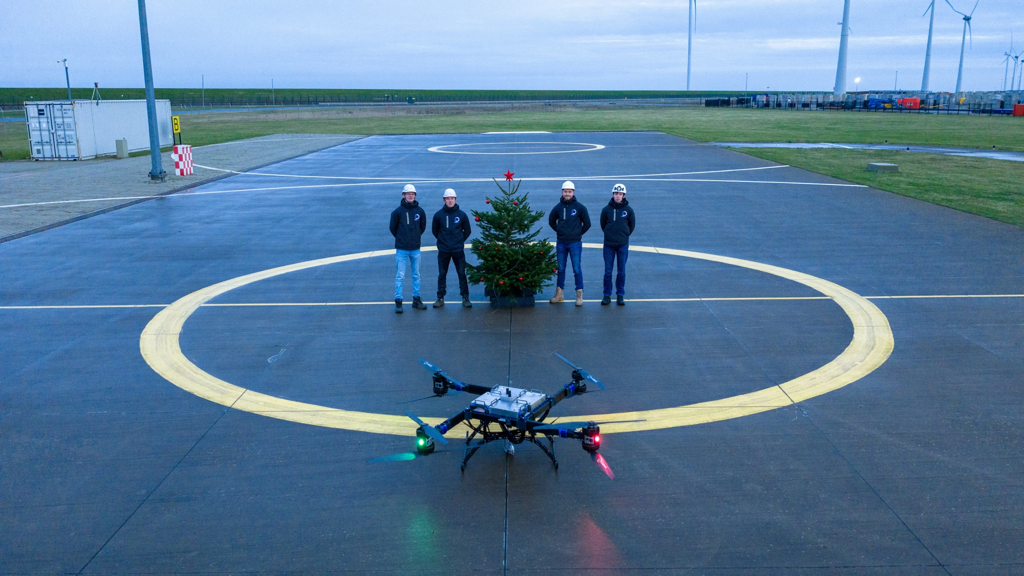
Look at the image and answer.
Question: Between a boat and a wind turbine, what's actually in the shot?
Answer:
wind turbine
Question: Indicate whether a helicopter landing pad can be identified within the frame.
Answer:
Yes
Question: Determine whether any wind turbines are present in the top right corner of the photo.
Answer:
Yes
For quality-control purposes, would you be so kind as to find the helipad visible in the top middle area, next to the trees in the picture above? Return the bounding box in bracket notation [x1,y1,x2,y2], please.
[161,132,791,179]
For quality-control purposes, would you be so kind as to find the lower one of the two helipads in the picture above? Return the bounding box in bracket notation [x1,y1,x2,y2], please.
[0,179,1024,437]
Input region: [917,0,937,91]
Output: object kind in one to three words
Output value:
wind turbine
